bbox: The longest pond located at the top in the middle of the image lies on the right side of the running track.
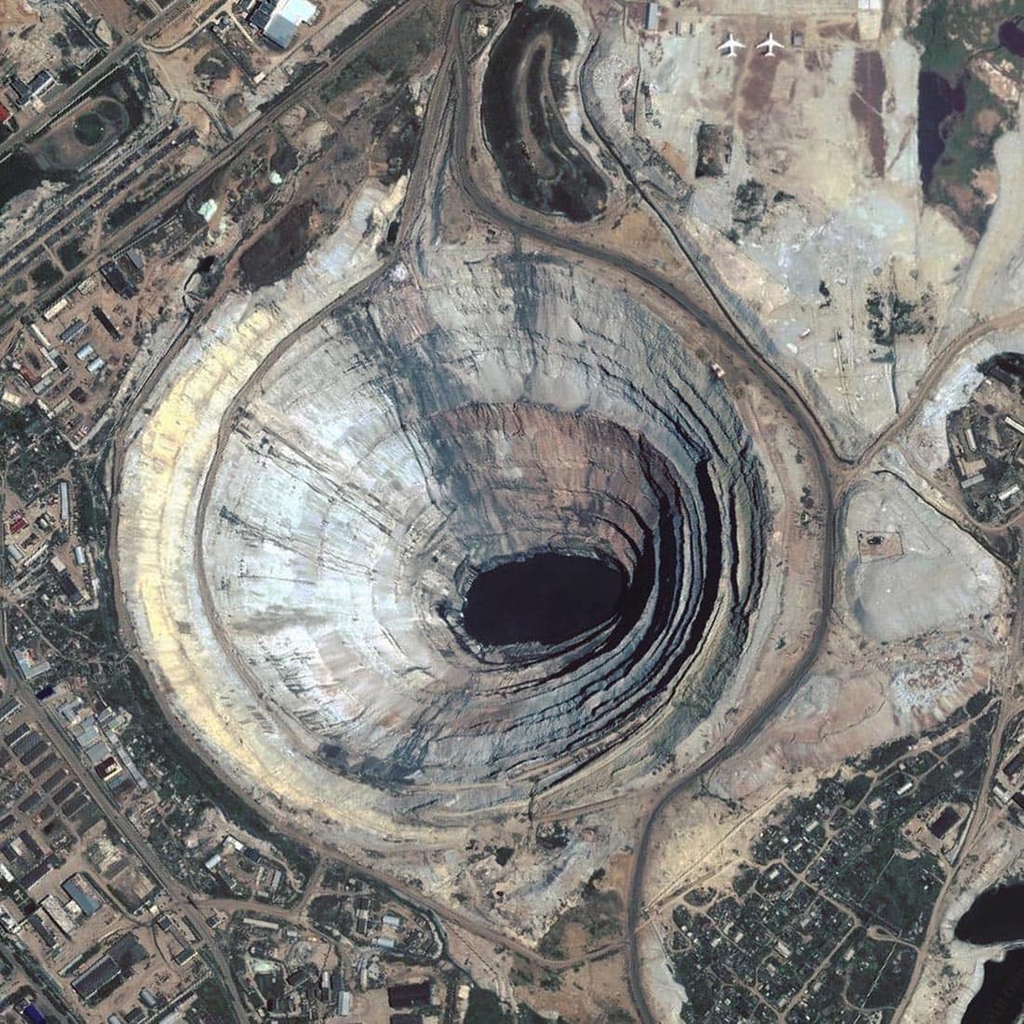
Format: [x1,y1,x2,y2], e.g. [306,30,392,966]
[481,4,609,222]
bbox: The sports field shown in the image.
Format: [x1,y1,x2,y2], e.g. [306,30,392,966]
[34,94,128,168]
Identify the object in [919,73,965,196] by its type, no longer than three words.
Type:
pond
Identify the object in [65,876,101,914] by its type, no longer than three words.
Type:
hangar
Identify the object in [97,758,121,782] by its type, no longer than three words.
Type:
building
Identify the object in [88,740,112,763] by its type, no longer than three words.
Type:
building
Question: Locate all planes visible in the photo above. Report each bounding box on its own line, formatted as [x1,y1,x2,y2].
[758,33,783,56]
[719,33,745,57]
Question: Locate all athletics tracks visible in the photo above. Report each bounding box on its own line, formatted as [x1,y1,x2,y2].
[34,94,128,168]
